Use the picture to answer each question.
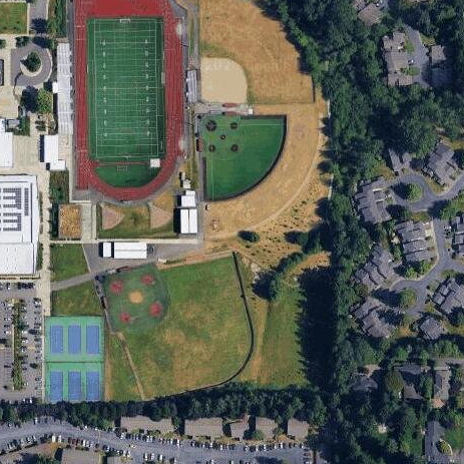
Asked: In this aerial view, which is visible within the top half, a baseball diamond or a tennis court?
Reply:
baseball diamond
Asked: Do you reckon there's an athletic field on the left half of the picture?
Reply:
Yes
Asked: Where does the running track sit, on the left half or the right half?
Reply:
left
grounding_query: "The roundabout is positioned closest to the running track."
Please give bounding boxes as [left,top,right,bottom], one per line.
[12,40,51,86]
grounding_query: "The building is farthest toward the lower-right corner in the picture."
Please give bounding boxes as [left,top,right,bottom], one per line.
[425,421,454,461]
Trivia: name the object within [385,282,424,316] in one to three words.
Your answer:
roundabout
